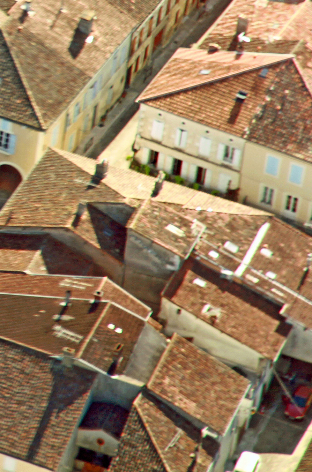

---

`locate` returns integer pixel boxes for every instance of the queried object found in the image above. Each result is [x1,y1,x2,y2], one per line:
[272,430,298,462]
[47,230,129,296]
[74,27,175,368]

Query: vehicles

[283,379,312,421]
[233,444,263,472]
